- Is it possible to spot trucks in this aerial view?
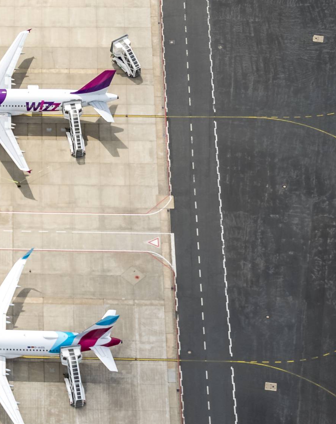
Yes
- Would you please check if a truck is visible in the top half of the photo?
Yes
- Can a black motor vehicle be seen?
No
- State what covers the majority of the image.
paved ground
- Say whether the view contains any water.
No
